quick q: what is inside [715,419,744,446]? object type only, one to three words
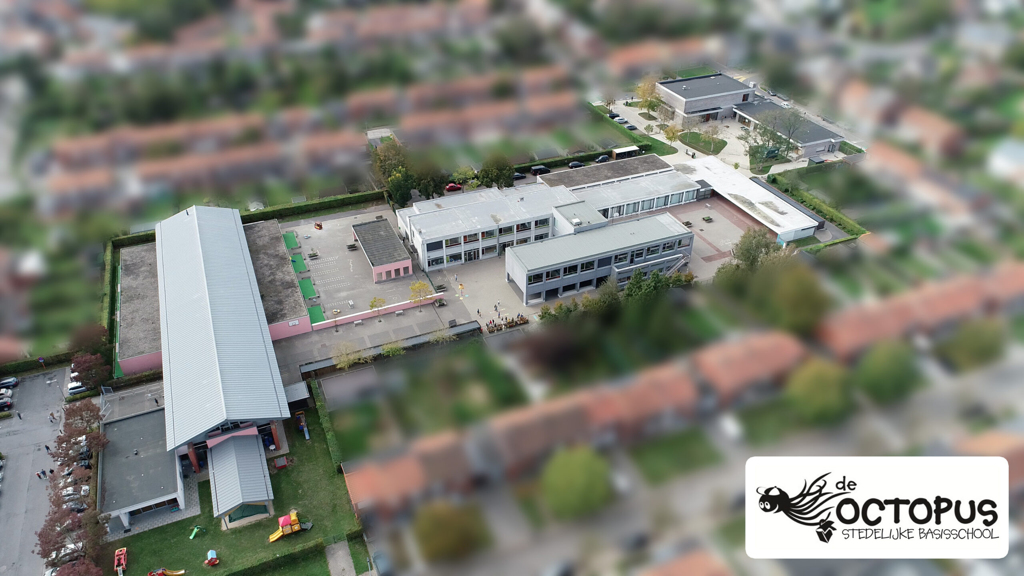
vehicle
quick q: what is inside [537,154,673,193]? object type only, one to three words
building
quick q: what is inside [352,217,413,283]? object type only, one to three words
building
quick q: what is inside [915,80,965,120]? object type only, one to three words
house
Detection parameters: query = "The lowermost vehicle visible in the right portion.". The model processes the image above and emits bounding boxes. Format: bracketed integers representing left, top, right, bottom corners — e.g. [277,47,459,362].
[617,530,653,558]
